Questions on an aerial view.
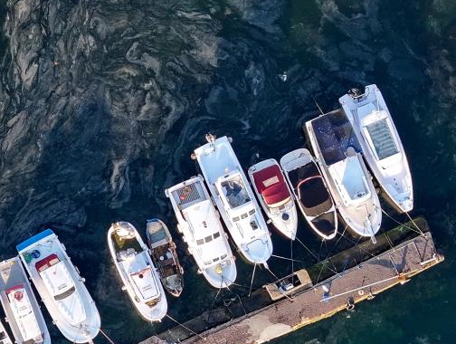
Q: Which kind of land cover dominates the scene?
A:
water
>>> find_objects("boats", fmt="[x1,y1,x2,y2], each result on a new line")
[279,148,335,239]
[16,227,98,344]
[0,255,49,344]
[303,100,387,236]
[247,157,299,242]
[163,177,238,287]
[339,85,413,212]
[144,217,183,295]
[110,221,166,321]
[189,136,273,263]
